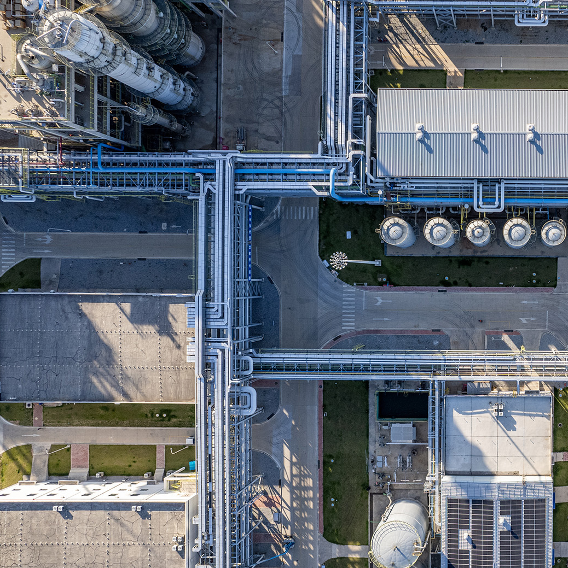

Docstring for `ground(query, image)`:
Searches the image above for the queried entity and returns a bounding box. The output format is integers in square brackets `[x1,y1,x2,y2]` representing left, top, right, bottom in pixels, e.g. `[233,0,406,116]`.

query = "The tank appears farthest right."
[539,216,568,247]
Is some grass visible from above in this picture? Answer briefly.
Yes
